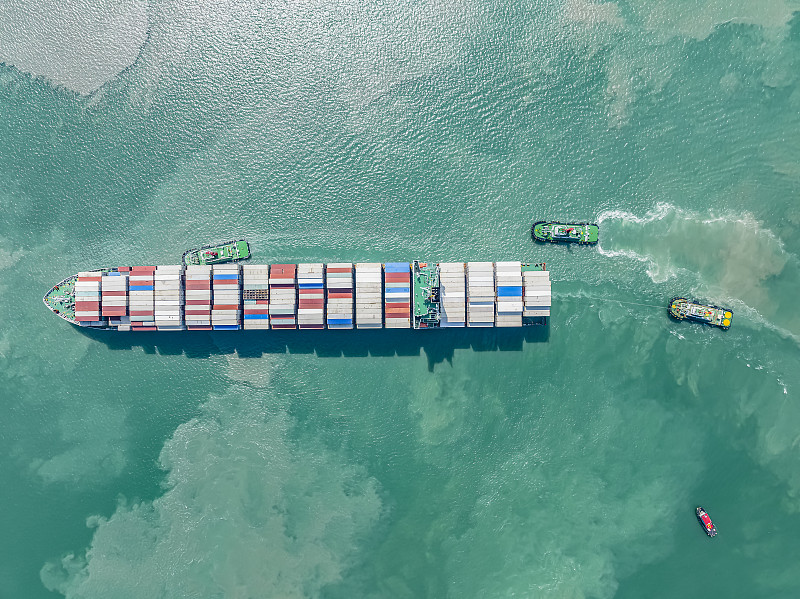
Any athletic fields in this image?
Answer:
No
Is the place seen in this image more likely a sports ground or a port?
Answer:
port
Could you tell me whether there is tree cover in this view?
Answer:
No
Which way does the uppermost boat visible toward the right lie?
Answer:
horizontally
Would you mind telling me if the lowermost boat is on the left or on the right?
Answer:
right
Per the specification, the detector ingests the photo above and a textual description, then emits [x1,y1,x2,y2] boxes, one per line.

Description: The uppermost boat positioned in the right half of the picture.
[531,221,598,244]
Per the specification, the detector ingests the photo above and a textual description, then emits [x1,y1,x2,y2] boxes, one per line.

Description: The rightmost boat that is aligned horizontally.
[666,298,733,330]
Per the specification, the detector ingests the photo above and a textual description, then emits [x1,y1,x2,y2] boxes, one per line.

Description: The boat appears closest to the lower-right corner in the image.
[698,508,717,538]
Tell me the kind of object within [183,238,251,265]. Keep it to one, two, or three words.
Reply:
boat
